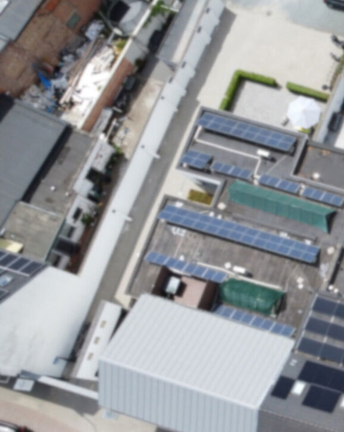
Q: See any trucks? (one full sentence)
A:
No, I can't see a single truck in this photo.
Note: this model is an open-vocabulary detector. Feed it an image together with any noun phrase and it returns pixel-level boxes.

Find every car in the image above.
[0,420,30,432]
[321,0,344,10]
